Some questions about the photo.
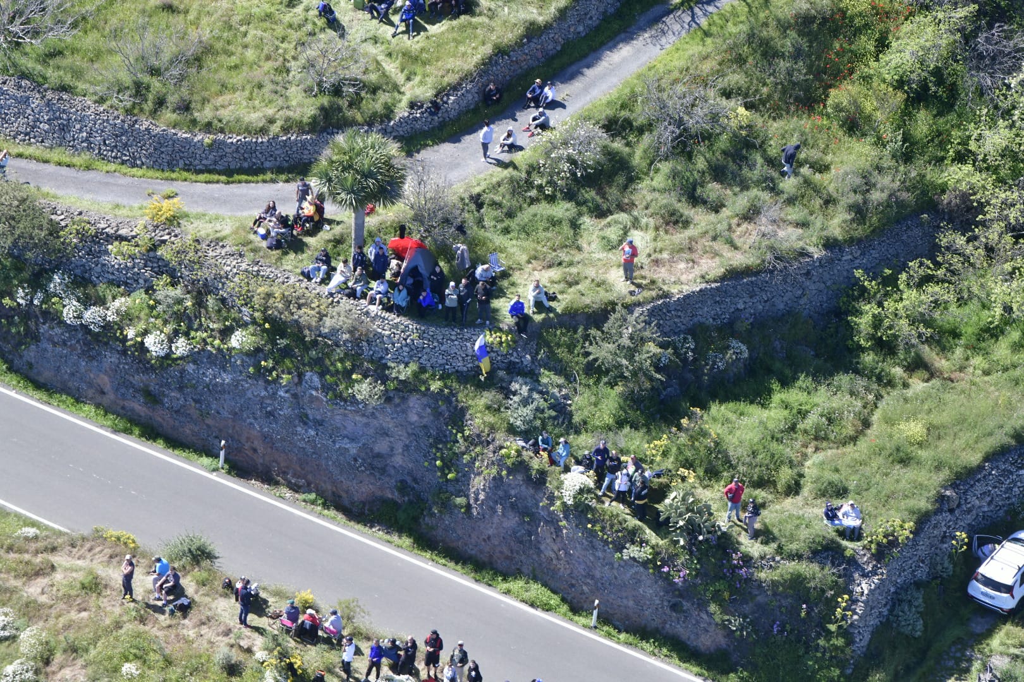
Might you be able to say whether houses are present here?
No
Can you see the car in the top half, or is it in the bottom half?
bottom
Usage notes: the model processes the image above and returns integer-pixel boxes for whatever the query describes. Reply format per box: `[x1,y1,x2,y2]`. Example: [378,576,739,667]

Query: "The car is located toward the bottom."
[968,518,1024,613]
